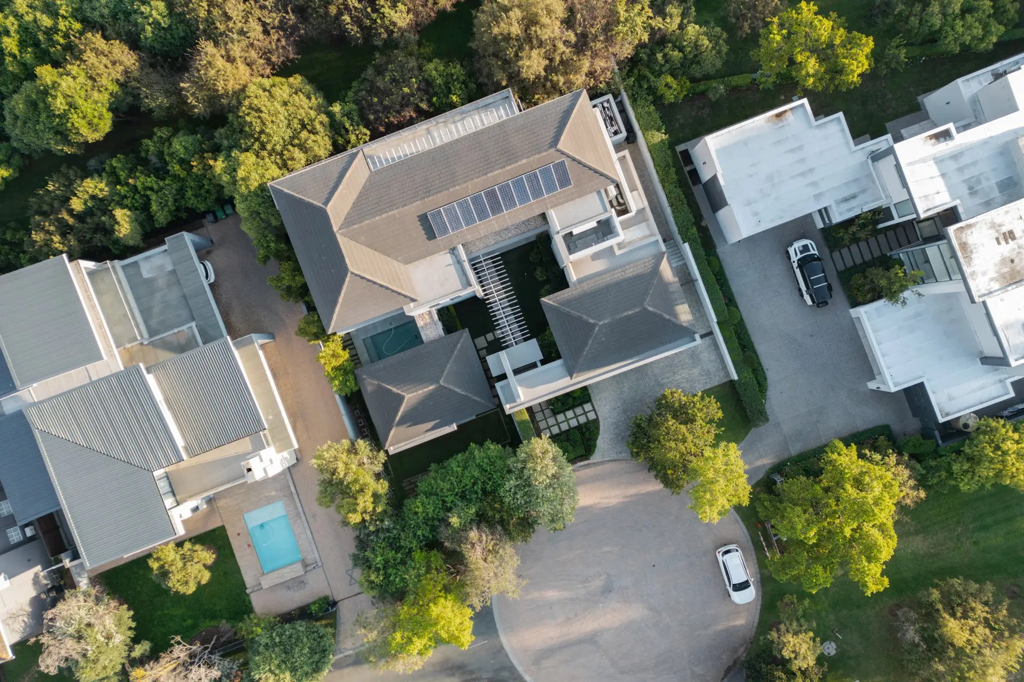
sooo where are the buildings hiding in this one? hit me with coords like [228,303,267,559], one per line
[679,53,1024,423]
[268,87,666,337]
[354,327,498,455]
[0,246,297,570]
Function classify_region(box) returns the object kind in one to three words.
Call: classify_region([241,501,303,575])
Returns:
swimming pool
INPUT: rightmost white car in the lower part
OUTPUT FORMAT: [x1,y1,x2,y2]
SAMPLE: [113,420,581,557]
[715,543,754,605]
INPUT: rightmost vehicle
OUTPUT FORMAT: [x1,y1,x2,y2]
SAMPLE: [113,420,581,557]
[786,239,834,307]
